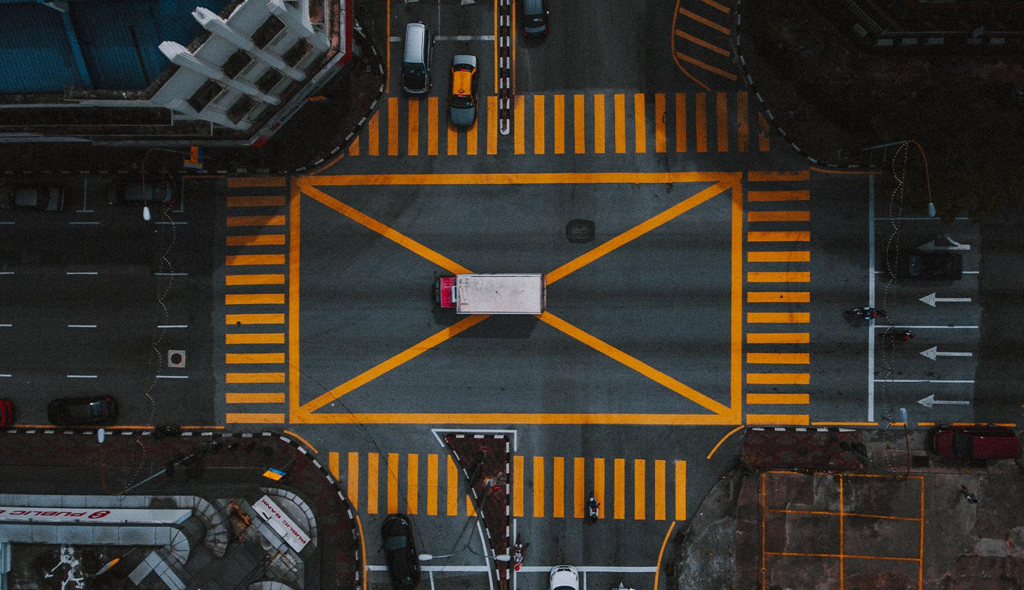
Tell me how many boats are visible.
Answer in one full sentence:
The picture shows no boats.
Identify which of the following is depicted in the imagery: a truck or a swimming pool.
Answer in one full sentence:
It is a truck that can be seen here.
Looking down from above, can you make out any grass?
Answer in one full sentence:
No, there is no grass in the image.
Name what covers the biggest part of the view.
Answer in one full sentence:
The scene is dominated by paved ground.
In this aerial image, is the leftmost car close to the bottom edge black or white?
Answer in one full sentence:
In this view, the leftmost car close to the bottom edge is black.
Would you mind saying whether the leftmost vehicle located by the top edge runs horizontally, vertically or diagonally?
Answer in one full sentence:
The leftmost vehicle located by the top edge is oriented vertically.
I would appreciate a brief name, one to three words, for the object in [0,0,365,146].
building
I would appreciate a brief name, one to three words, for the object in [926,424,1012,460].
vehicle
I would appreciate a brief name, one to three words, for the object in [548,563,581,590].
car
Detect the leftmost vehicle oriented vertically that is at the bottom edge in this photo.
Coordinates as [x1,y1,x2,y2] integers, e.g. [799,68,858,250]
[381,513,421,590]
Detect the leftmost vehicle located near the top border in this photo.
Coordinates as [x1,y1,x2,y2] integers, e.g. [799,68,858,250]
[398,23,433,94]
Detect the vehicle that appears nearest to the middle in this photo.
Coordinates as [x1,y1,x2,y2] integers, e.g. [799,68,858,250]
[432,271,550,313]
